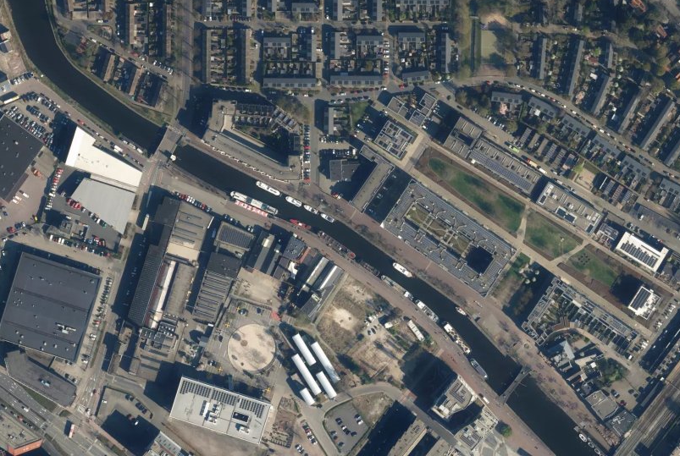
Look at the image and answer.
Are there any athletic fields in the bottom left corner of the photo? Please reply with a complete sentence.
No, there is no athletic field in the bottom left corner of the photo.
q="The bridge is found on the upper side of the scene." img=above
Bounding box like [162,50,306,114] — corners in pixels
[155,127,183,162]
